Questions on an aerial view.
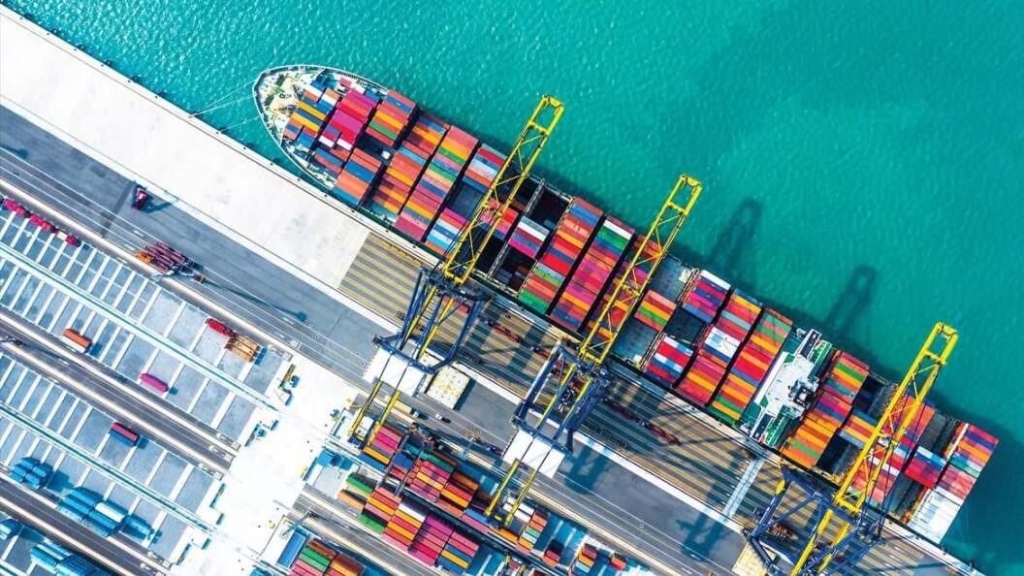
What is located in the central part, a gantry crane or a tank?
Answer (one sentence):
The one visible in the central part is a gantry crane.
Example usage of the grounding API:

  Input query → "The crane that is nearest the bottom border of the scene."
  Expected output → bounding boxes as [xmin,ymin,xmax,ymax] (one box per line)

[485,540,524,576]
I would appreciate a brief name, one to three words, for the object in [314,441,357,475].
shed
